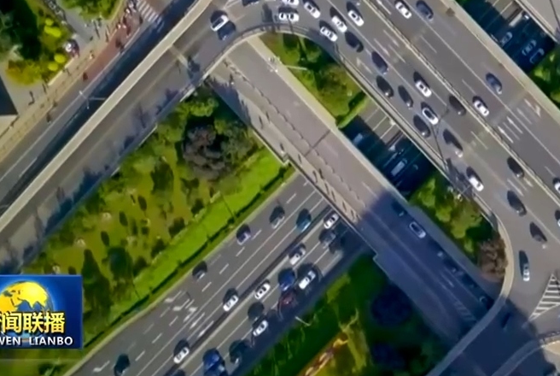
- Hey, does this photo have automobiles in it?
Yes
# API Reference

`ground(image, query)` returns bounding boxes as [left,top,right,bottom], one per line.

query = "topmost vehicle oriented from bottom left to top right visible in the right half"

[509,6,528,26]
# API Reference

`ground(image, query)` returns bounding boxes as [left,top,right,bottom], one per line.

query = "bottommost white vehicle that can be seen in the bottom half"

[173,345,190,363]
